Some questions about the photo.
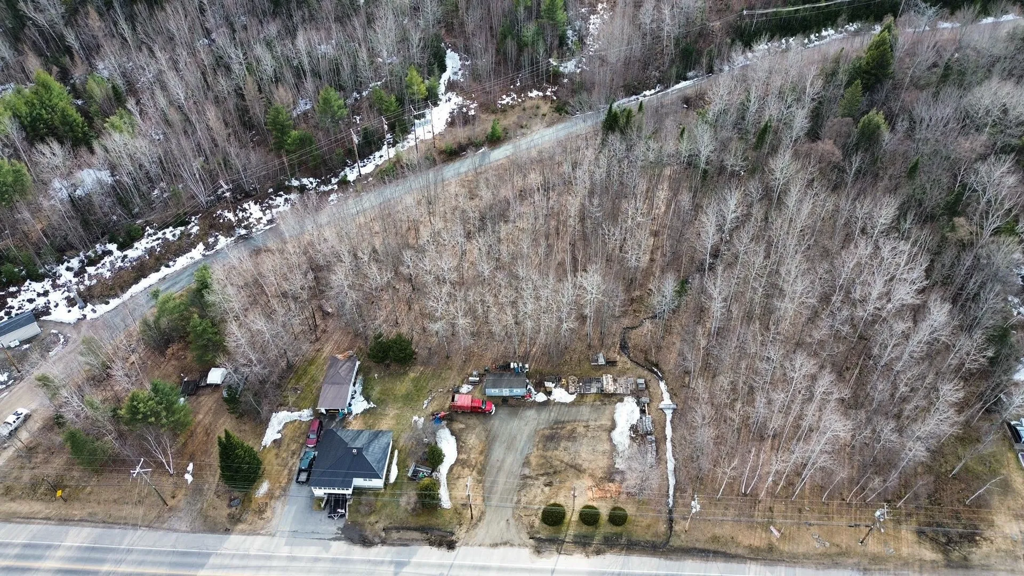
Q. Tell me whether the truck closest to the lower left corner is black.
No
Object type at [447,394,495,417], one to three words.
truck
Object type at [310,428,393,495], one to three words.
house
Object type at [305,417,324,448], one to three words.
car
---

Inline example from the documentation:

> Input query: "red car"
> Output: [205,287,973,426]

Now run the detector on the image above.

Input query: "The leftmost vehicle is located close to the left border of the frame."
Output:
[0,408,35,442]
